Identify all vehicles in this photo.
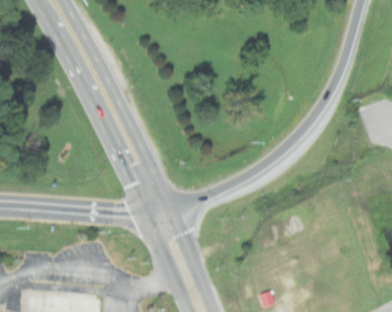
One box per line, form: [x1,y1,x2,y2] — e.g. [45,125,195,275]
[118,152,128,165]
[198,195,208,200]
[96,104,104,118]
[324,90,331,100]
